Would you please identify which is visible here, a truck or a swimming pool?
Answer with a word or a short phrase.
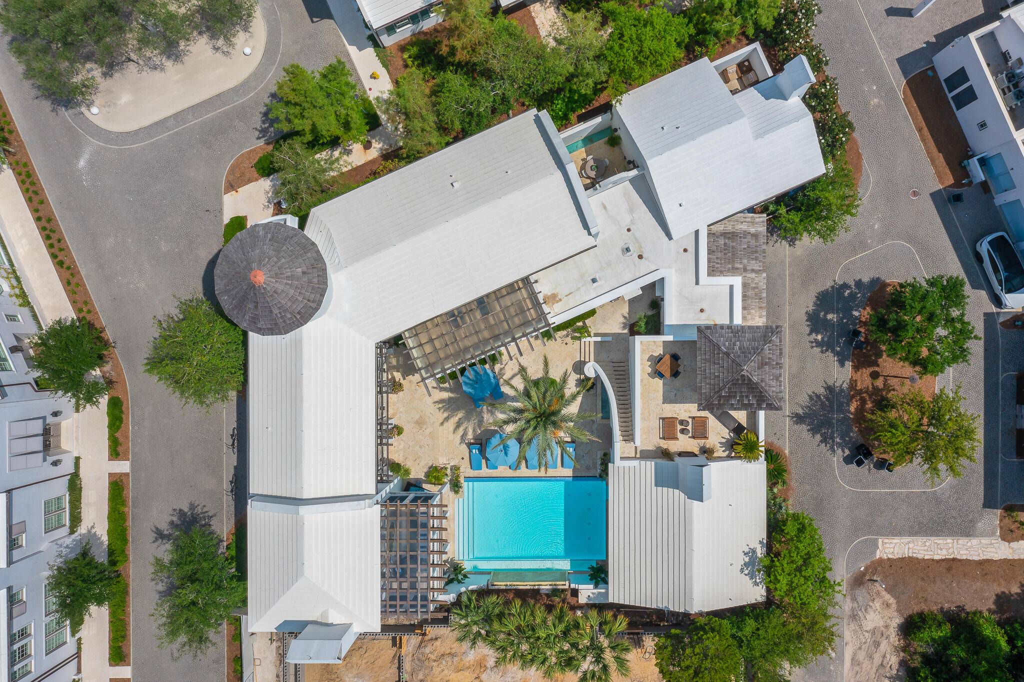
swimming pool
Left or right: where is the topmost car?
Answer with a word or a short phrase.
right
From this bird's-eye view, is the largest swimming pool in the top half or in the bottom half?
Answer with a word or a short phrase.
bottom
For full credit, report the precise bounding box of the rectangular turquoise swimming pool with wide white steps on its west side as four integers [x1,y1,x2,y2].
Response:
[452,478,606,565]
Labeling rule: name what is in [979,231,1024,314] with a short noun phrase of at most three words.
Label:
car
